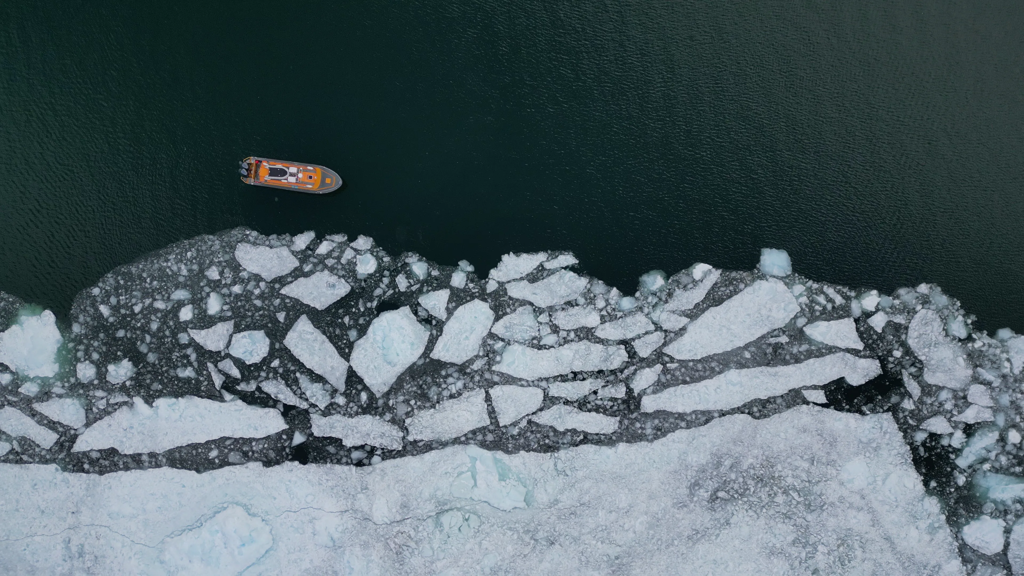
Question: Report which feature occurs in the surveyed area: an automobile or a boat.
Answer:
boat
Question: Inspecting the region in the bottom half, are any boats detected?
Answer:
No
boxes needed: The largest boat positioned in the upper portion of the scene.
[240,156,343,194]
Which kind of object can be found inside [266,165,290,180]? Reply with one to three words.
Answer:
boat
